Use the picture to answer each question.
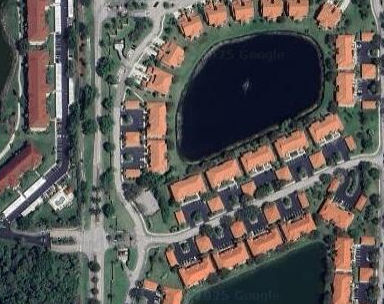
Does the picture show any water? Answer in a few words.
Yes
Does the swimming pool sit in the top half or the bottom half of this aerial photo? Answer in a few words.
bottom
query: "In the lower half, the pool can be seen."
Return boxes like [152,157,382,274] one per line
[49,188,74,210]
